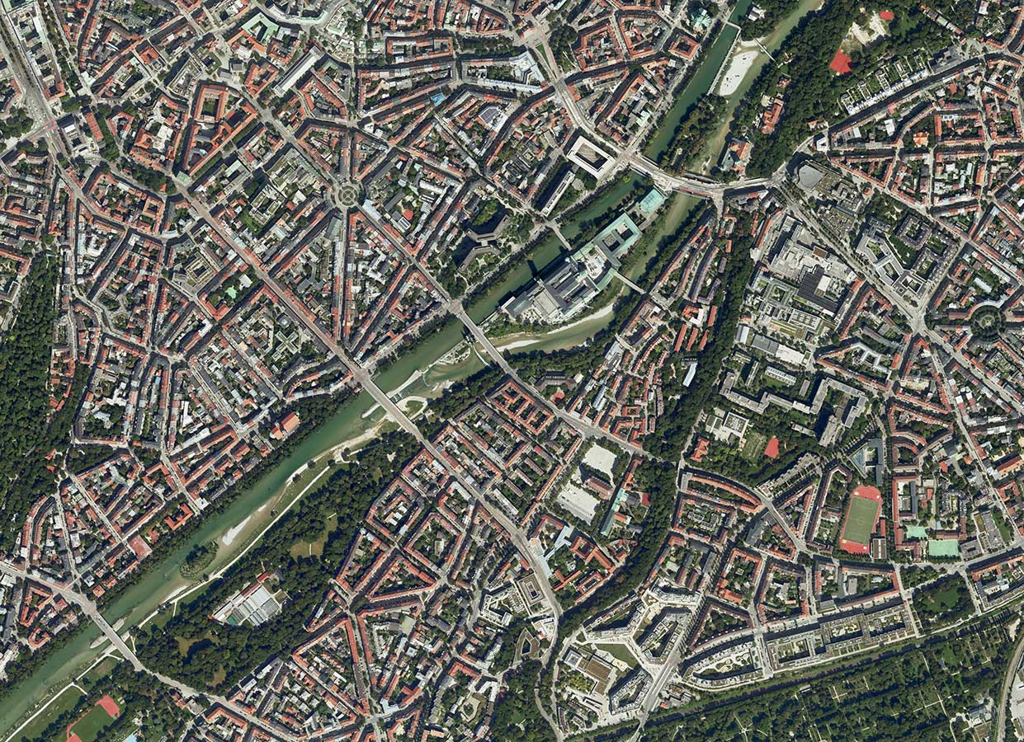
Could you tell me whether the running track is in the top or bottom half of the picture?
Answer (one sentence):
The bottom half of the photo is where the running track is.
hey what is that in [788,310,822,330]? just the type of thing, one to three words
building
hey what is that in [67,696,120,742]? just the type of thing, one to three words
sports field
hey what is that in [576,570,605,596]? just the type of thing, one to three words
building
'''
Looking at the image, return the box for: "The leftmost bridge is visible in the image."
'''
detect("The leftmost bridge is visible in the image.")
[86,606,144,671]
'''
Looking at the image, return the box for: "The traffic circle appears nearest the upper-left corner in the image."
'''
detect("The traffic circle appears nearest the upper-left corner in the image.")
[331,180,362,210]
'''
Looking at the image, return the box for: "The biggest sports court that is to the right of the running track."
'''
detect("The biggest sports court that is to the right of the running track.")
[929,540,959,555]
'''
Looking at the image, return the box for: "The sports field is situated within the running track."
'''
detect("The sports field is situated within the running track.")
[844,497,879,544]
